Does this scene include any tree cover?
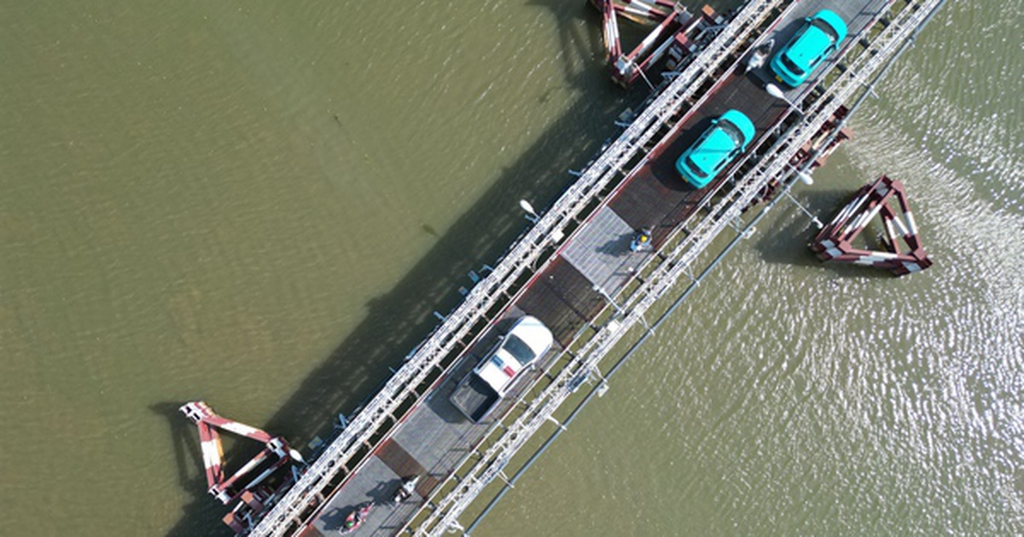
No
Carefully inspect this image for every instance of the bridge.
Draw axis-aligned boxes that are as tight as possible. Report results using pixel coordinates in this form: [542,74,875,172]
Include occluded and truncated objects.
[247,0,935,537]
